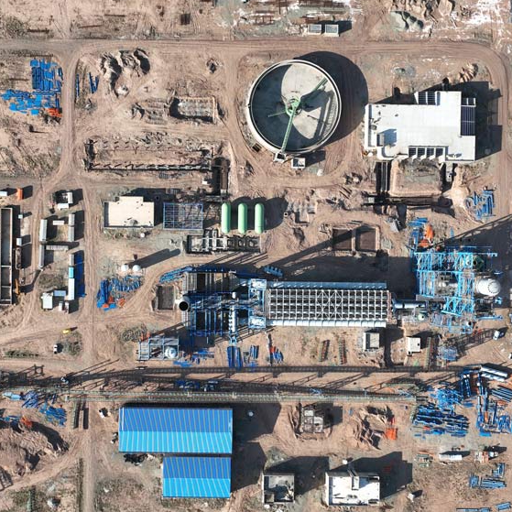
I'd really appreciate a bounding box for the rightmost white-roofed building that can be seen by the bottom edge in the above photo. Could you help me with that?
[324,469,379,506]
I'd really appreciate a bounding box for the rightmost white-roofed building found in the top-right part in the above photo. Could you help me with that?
[362,91,476,165]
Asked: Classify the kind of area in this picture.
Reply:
industrial area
